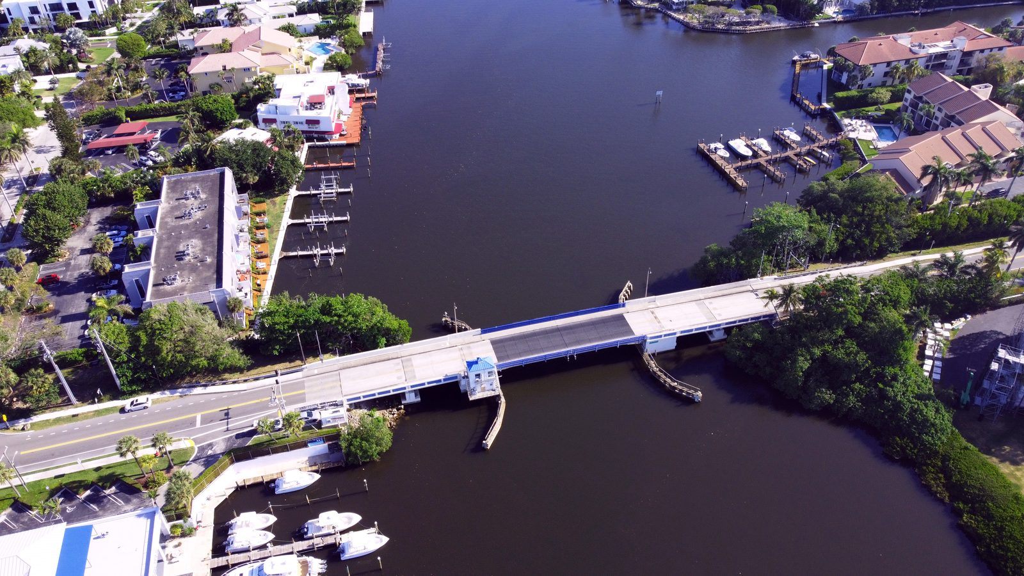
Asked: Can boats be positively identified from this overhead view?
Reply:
Yes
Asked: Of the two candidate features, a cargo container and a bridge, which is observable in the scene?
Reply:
bridge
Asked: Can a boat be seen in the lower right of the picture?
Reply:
No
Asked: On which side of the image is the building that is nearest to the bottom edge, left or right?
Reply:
left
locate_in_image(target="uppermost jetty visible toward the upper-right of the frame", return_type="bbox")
[789,55,837,113]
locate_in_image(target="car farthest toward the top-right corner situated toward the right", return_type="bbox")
[986,186,1007,198]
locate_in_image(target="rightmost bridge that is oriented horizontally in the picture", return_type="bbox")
[305,276,776,430]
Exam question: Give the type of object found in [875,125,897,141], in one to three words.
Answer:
swimming pool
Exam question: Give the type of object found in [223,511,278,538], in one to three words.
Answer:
boat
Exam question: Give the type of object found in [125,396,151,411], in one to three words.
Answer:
car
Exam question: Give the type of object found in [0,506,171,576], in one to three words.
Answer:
building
